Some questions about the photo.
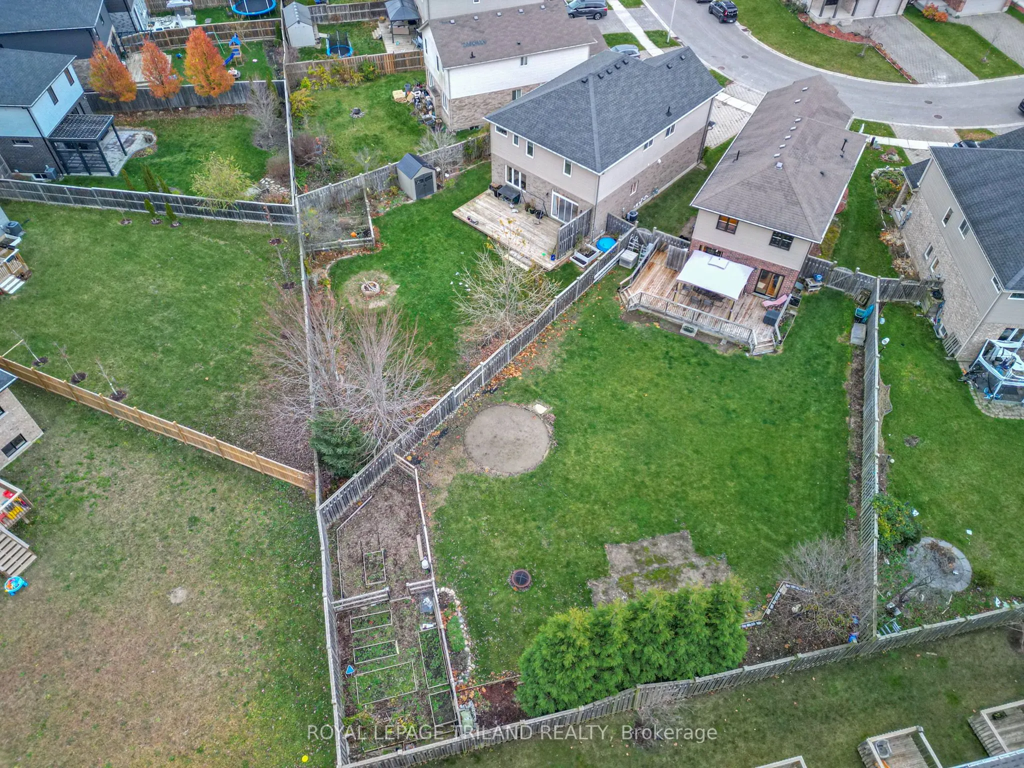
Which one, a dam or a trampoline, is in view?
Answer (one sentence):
This aerial view contains a trampoline.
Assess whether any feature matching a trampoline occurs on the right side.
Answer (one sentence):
No, there's no trampoline to be seen on the right side.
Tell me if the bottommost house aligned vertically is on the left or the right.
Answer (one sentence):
You can find the bottommost house aligned vertically on the left side of the picture.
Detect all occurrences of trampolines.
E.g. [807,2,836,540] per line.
[321,27,356,58]
[228,0,280,21]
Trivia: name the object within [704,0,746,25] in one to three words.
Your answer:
car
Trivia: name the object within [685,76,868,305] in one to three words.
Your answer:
house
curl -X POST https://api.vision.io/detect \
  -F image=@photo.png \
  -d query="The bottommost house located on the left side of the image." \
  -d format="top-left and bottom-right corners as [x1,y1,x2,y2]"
[0,373,45,471]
